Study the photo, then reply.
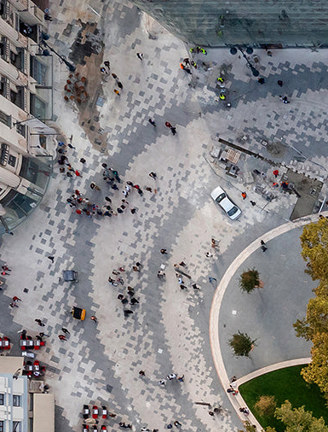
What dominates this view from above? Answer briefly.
paved ground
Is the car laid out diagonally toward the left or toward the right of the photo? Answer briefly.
right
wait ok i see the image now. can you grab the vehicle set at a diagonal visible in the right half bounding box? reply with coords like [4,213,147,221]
[210,184,245,223]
